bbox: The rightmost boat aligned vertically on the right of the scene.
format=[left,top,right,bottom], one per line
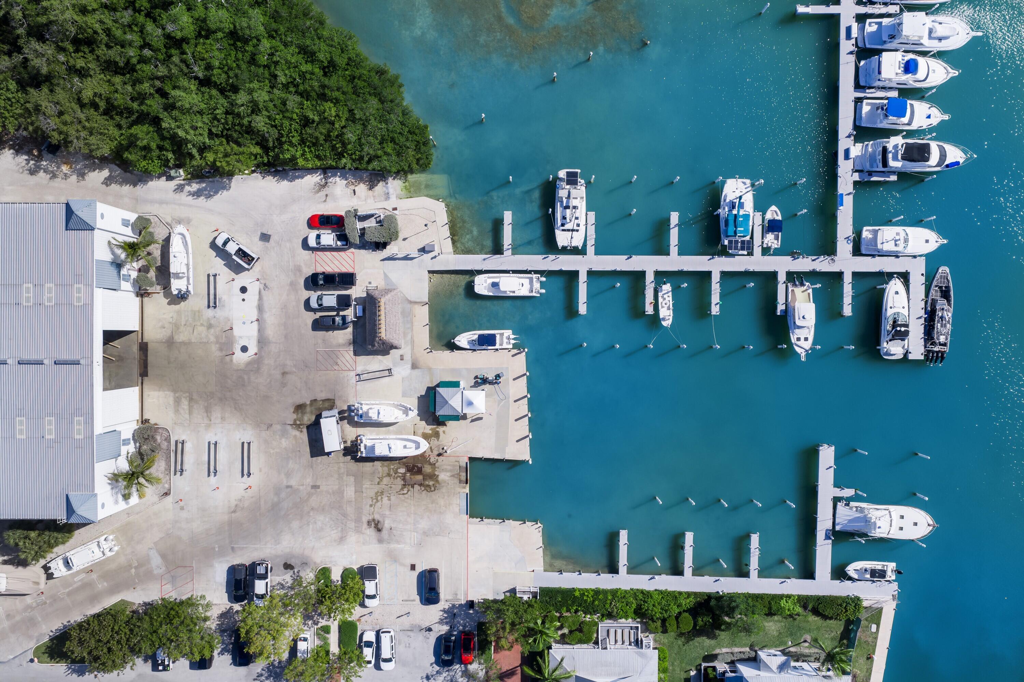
[924,266,953,363]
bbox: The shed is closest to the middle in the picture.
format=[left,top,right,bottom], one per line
[430,381,463,421]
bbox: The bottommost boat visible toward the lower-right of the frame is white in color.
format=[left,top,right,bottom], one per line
[843,560,903,581]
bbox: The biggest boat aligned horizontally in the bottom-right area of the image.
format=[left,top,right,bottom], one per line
[832,499,939,543]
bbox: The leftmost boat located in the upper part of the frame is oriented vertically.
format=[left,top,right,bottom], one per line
[170,222,195,299]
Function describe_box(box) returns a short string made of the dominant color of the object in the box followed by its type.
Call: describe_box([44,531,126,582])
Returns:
white boat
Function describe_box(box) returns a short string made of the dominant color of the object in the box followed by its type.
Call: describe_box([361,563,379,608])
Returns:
white vehicle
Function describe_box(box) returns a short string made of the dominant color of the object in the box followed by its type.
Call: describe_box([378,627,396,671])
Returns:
white car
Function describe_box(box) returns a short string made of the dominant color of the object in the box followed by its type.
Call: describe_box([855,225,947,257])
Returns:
white boat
